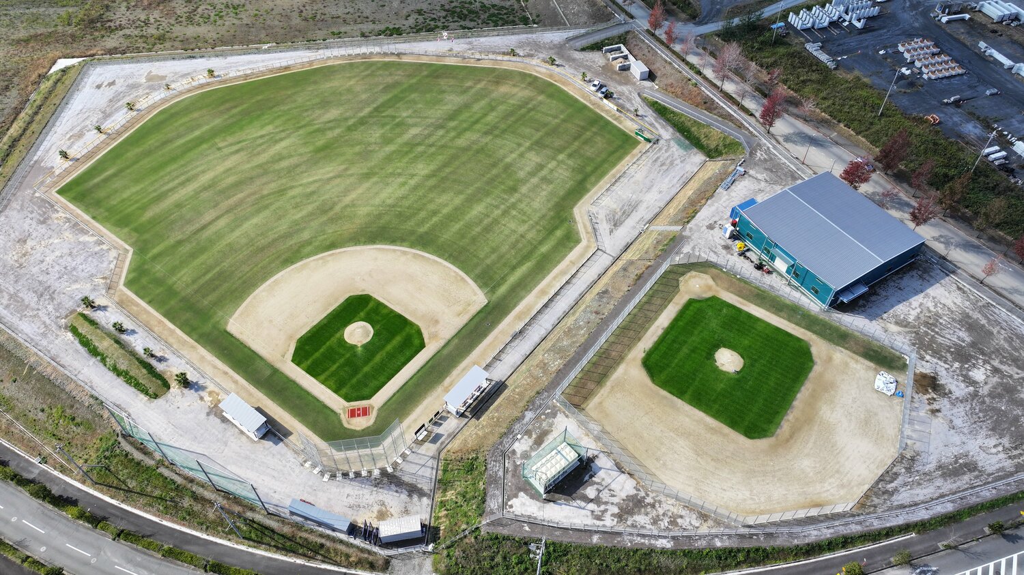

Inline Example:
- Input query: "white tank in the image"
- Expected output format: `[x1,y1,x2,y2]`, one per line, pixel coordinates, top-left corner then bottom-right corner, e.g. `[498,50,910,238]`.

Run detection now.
[529,440,583,493]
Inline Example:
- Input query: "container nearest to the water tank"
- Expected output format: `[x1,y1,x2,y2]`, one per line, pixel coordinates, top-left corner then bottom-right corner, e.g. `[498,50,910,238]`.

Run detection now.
[380,514,425,545]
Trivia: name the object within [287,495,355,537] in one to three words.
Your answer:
shed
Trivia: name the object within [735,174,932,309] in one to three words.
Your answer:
building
